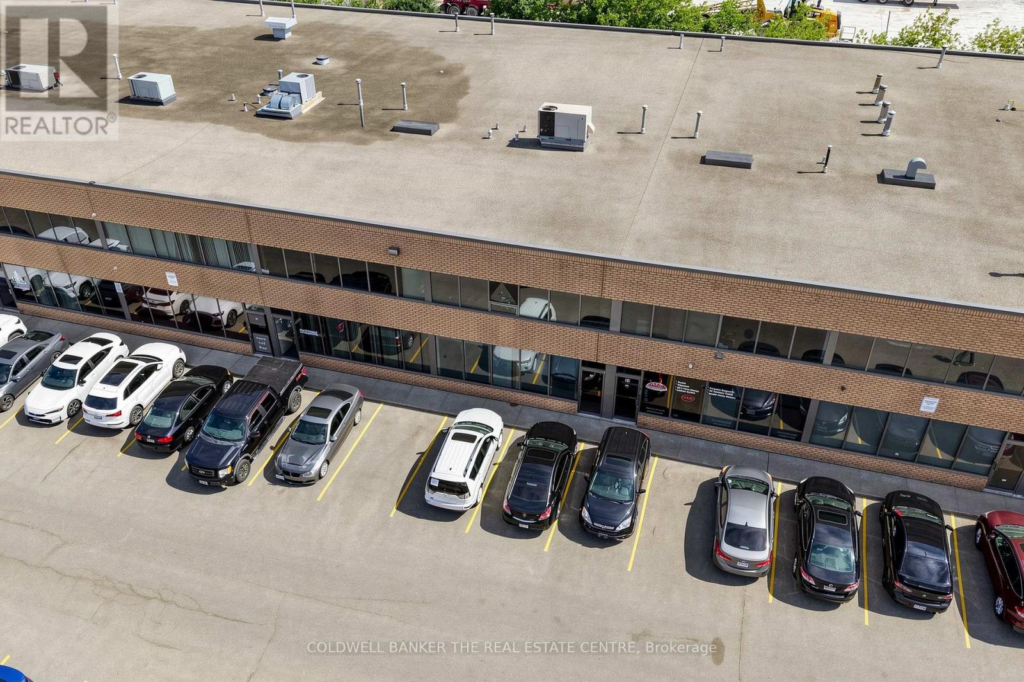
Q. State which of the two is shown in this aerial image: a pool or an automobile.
automobile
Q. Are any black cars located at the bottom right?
Yes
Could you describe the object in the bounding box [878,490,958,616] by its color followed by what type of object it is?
black car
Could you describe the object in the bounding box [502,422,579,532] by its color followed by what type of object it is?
black car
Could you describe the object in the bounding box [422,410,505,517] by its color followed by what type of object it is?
white car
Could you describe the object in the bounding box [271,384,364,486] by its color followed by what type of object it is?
gray car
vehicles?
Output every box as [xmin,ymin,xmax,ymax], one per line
[0,327,69,410]
[502,422,579,532]
[80,345,185,432]
[133,363,234,450]
[0,664,28,682]
[708,461,783,576]
[271,384,364,486]
[790,476,866,605]
[974,511,1024,641]
[23,332,130,423]
[579,418,652,540]
[878,490,958,616]
[738,0,840,32]
[422,410,505,517]
[179,354,310,486]
[0,313,36,343]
